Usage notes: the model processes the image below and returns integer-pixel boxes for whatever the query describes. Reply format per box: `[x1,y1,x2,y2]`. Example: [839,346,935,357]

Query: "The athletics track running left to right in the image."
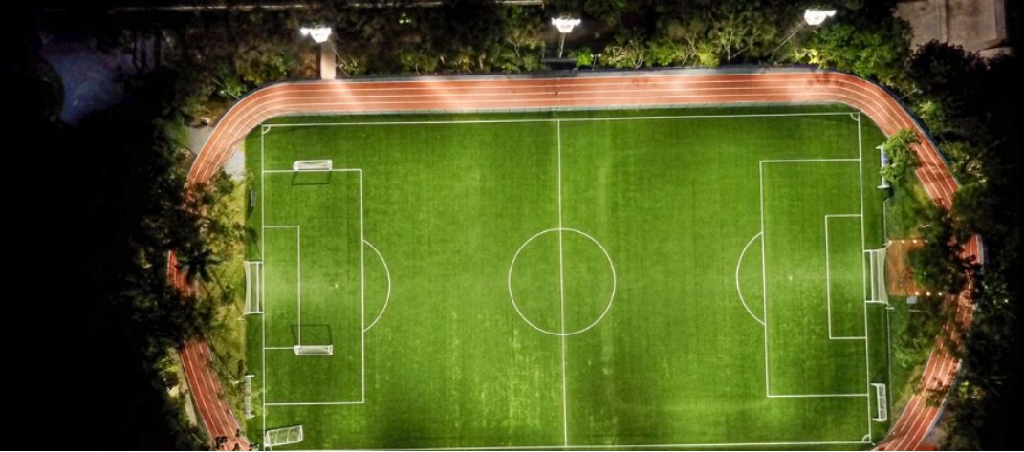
[169,72,978,452]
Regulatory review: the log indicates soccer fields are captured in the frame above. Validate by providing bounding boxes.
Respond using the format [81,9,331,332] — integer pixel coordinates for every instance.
[242,102,892,452]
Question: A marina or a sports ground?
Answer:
sports ground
